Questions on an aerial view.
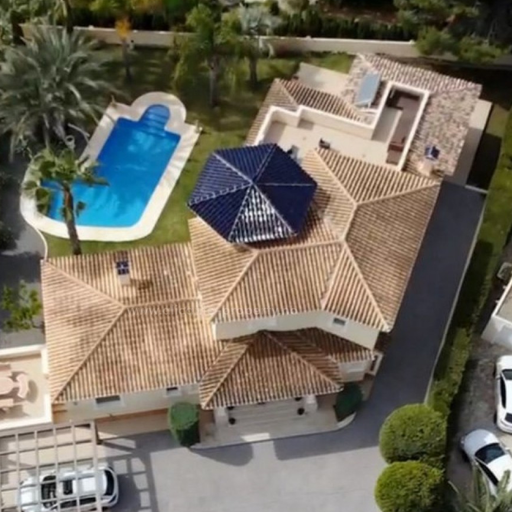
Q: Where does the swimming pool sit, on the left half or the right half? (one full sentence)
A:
You can find the swimming pool on the left side of the picture.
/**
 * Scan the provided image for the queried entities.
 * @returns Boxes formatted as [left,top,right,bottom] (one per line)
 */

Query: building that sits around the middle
[41,52,482,448]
